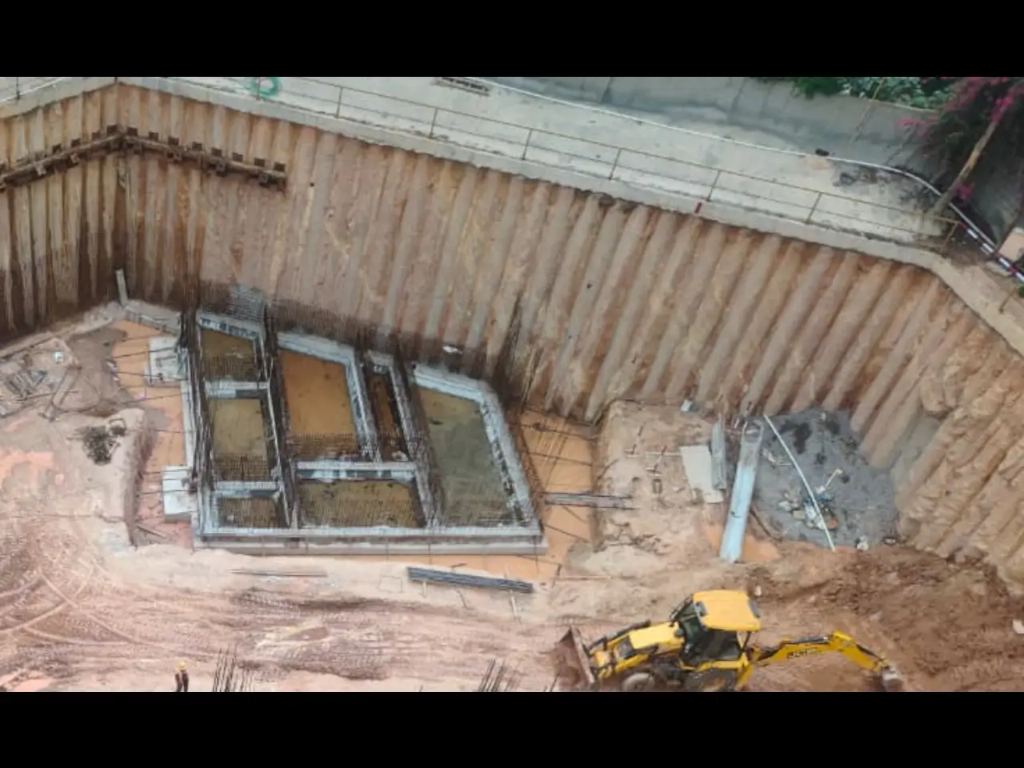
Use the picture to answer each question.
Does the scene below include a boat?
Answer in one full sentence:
No, no boat can be seen from above.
